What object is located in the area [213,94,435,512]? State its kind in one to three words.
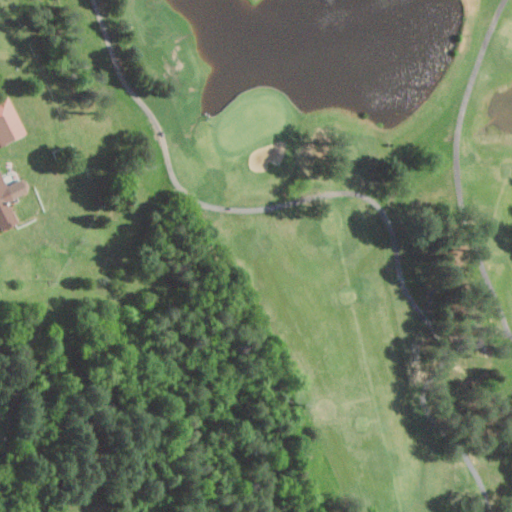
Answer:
golf course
